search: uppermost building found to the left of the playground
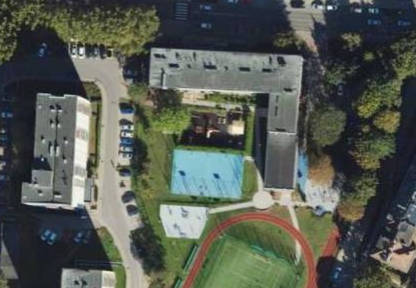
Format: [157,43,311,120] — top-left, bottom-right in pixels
[22,94,97,209]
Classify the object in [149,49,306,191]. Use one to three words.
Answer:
building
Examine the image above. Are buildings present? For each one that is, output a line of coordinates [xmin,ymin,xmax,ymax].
[22,94,97,209]
[61,268,114,288]
[149,49,306,191]
[372,162,416,270]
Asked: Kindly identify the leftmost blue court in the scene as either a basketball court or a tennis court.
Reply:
basketball court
